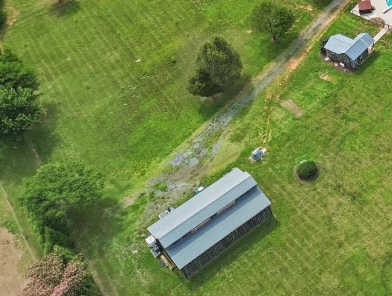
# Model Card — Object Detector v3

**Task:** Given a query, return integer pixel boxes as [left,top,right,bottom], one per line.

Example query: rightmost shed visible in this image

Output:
[325,33,375,68]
